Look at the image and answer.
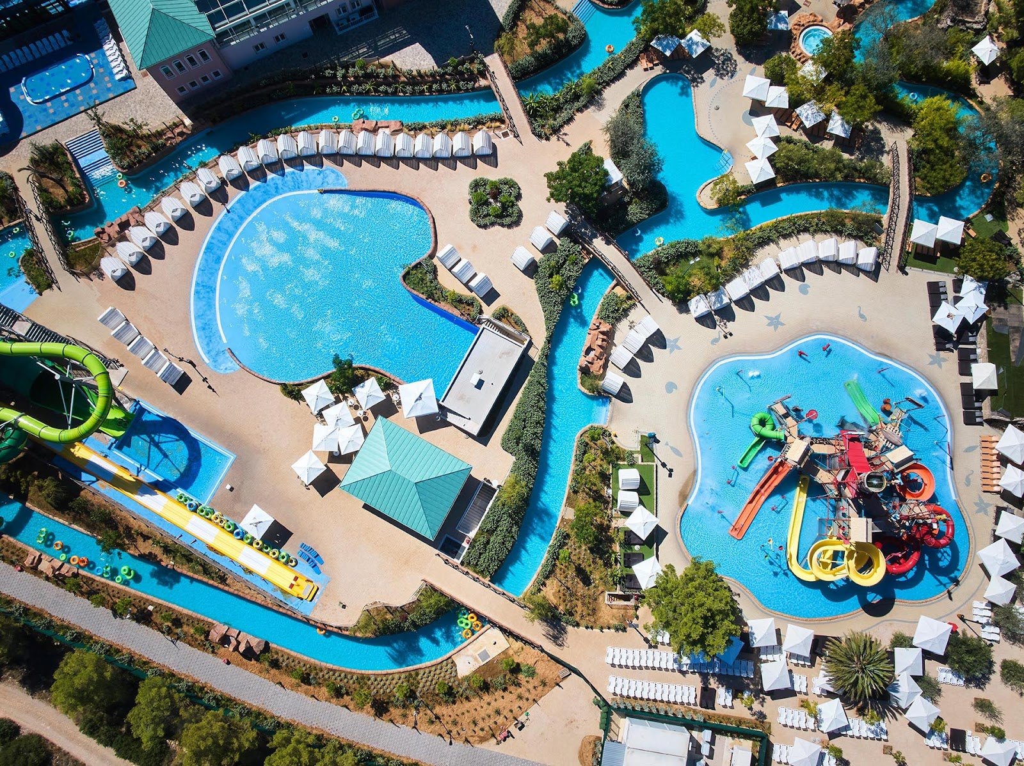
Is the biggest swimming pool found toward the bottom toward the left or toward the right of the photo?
right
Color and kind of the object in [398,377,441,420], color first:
white umbrella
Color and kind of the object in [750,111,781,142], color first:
white umbrella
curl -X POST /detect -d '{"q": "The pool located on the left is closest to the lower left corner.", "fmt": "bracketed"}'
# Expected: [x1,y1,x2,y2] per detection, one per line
[117,404,231,498]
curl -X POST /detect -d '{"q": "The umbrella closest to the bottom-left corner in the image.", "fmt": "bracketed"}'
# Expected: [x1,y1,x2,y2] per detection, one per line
[234,505,274,545]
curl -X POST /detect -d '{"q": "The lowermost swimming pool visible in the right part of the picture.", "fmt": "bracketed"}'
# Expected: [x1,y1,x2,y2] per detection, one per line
[679,337,971,619]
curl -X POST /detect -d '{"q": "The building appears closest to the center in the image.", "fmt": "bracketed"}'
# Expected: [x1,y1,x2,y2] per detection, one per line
[438,326,525,436]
